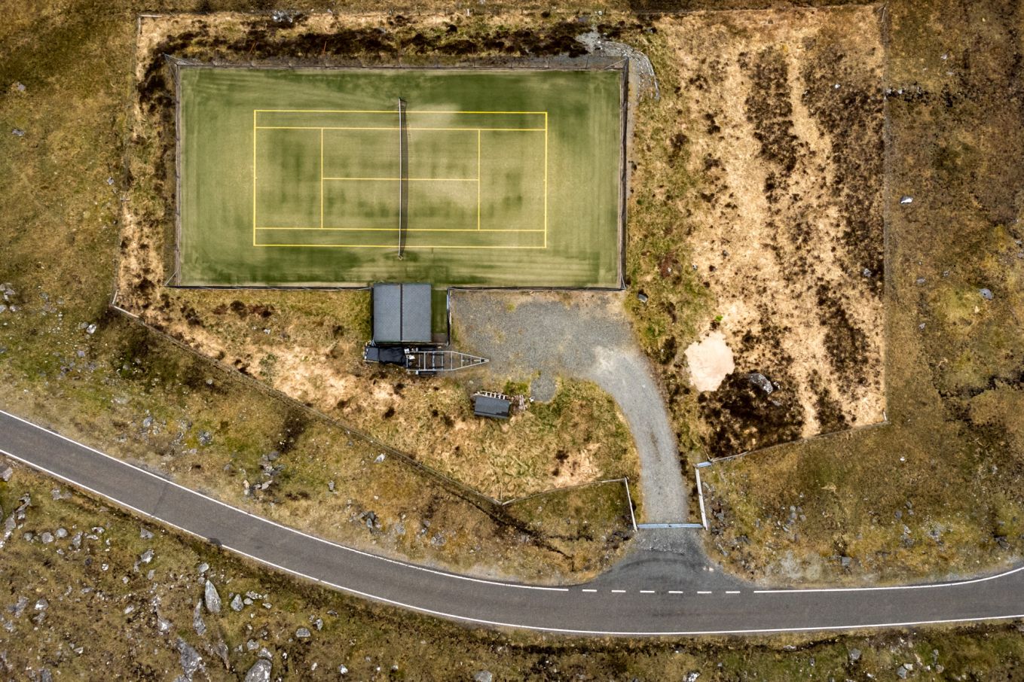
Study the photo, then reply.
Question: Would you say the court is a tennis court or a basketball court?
tennis court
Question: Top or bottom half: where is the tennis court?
top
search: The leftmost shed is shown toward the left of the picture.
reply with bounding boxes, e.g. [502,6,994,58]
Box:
[372,282,433,343]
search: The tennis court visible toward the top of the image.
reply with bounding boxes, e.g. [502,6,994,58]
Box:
[176,66,624,345]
